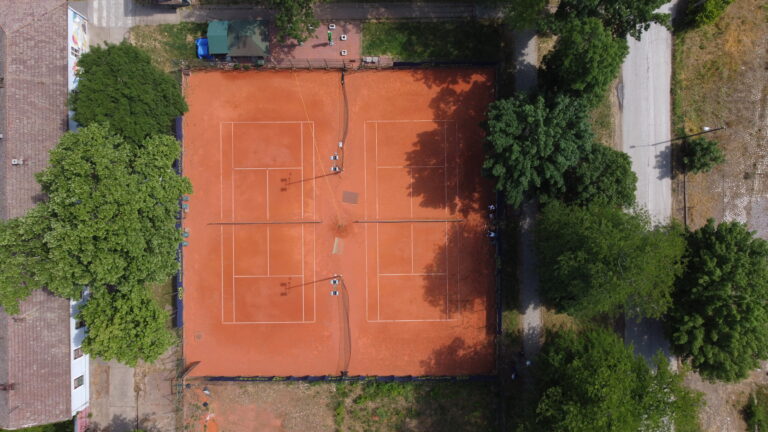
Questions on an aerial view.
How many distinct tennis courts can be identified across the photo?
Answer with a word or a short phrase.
2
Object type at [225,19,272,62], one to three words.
building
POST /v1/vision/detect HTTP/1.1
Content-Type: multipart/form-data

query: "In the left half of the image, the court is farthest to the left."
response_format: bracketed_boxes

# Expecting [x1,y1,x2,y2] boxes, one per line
[183,68,340,376]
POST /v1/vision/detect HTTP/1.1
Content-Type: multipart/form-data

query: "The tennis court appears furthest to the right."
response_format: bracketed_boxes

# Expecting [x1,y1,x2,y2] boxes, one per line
[340,68,495,376]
